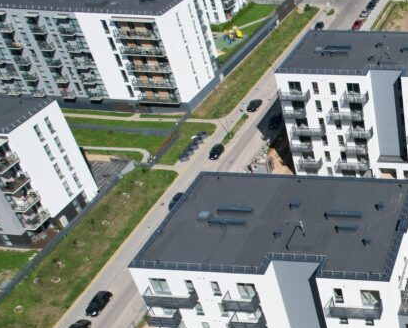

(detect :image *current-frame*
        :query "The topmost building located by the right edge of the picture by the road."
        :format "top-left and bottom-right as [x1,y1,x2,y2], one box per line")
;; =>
[275,26,408,180]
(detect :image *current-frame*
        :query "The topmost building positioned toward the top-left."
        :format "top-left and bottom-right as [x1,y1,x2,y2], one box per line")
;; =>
[0,0,219,102]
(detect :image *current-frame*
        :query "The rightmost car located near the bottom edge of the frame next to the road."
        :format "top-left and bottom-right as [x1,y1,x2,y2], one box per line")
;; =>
[80,291,114,317]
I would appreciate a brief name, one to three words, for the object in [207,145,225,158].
vehicle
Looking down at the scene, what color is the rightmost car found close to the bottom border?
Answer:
black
